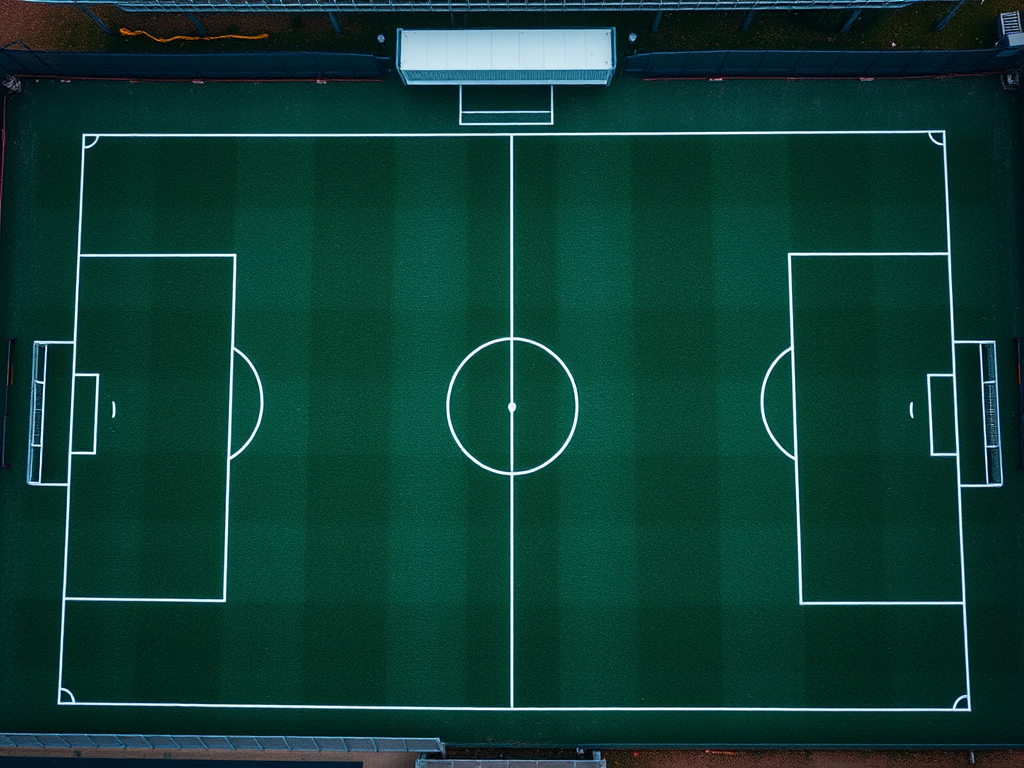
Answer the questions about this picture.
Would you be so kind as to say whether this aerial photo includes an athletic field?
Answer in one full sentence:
Yes, the frame does contain an athletic field.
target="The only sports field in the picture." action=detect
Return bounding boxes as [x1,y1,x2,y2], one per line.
[60,132,968,708]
